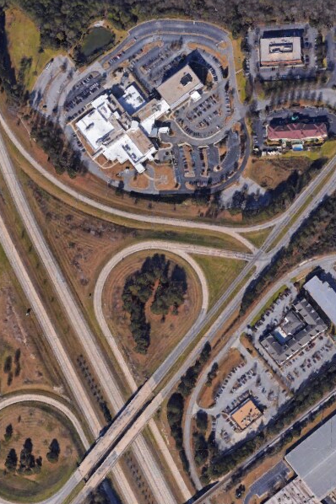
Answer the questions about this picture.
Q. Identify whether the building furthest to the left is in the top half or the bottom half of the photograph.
top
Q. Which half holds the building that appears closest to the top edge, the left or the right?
right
